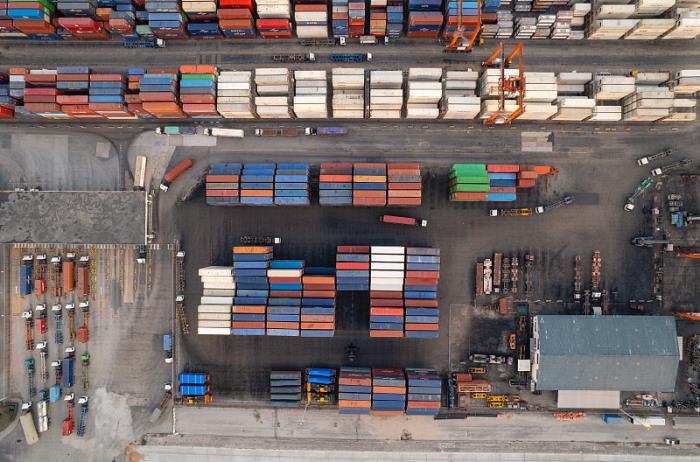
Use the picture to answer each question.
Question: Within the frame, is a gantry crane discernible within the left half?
No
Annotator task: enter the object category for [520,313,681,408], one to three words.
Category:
building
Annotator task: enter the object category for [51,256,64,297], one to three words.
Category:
vehicle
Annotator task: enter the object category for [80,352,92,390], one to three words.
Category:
vehicle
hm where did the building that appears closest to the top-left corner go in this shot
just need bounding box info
[0,188,147,247]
